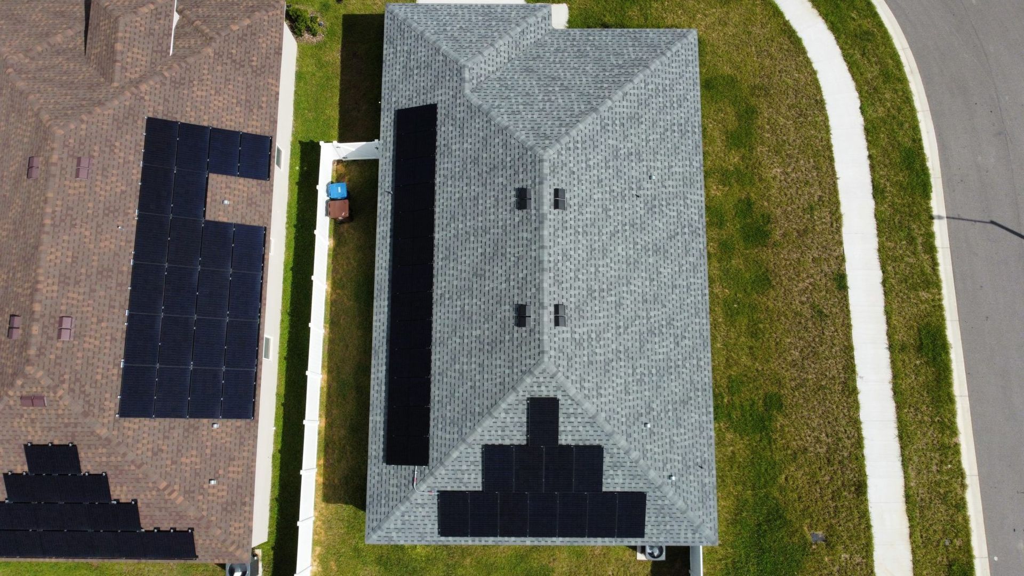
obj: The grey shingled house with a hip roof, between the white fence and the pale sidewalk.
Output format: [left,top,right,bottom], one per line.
[365,2,719,547]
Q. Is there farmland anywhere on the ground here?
No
